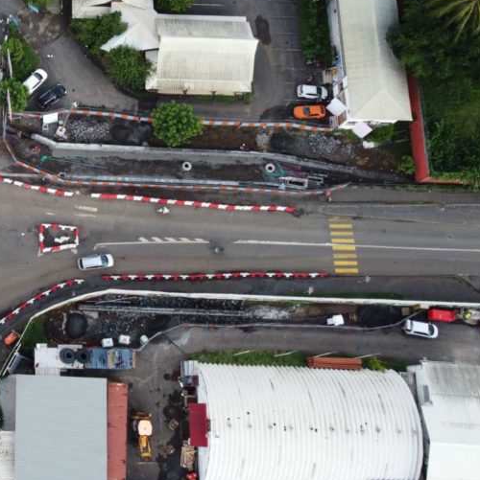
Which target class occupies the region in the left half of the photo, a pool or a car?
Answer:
car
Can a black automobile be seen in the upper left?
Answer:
Yes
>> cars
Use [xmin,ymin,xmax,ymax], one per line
[38,85,68,109]
[296,84,328,100]
[23,69,49,95]
[292,105,325,120]
[78,253,114,271]
[402,321,438,339]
